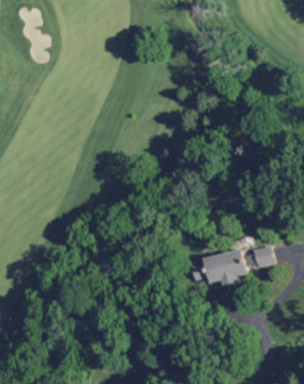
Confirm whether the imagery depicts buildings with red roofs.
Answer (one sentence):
No, there's no building with a red roof here.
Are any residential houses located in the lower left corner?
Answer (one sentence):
No, I see no residential house in the lower left corner.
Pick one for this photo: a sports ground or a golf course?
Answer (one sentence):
It's a golf course.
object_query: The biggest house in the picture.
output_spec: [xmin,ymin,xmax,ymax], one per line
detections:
[202,252,249,284]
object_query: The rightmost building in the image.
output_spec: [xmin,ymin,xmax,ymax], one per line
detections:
[254,246,277,268]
